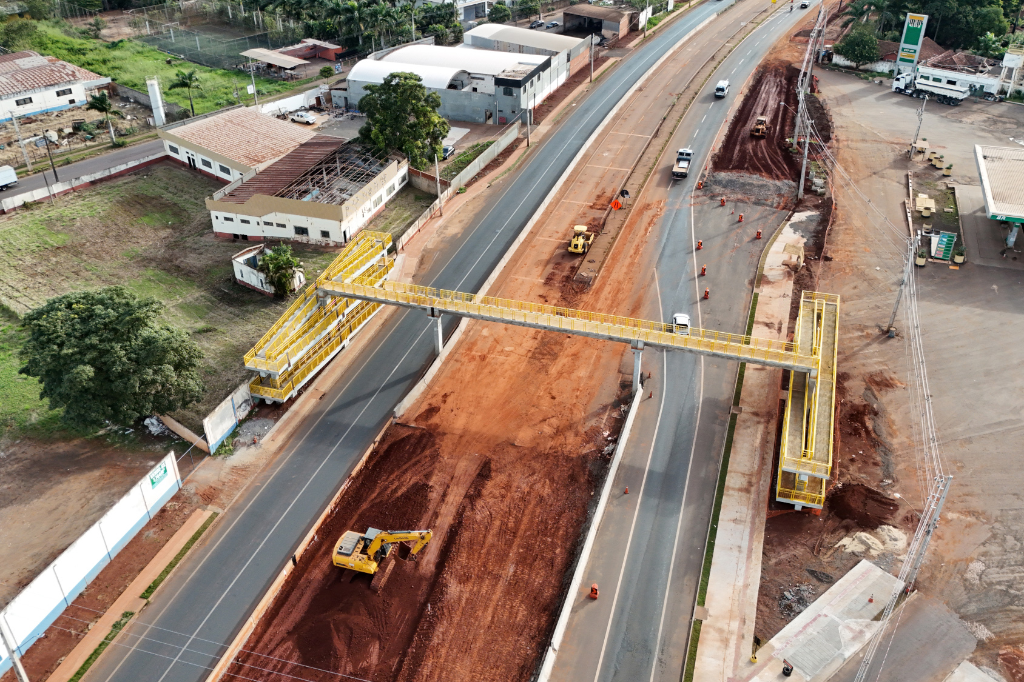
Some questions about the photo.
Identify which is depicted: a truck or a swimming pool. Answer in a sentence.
The one in the frame is a truck.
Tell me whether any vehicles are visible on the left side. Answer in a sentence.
Yes, a vehicle can be seen on the left side.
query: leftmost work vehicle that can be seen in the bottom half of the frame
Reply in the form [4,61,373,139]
[329,529,437,596]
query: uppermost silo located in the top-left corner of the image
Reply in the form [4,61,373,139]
[142,76,165,128]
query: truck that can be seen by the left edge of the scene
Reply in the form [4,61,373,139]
[0,161,21,185]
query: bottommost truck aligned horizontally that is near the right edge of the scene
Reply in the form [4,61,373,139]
[895,70,976,105]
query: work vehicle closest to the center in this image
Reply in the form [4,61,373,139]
[567,224,596,255]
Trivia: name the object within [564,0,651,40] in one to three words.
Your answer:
shed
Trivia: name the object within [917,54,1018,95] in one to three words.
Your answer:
building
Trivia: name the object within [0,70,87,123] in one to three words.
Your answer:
building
